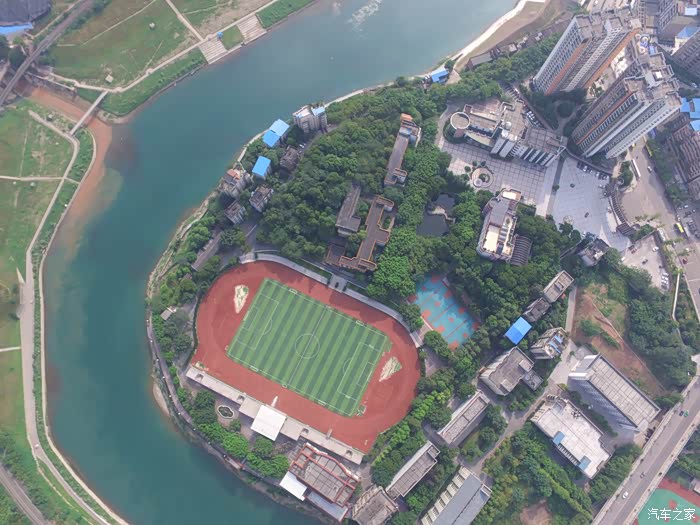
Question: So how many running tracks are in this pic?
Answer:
1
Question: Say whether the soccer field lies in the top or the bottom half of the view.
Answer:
bottom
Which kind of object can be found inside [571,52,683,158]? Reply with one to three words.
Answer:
building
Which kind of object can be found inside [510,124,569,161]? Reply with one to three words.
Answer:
building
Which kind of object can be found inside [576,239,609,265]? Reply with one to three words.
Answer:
house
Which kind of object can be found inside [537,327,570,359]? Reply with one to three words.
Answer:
house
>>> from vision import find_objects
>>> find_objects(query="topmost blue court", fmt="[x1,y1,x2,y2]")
[412,273,483,348]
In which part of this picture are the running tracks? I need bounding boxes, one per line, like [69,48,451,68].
[192,261,421,454]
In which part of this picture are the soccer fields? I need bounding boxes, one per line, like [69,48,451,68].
[227,278,392,418]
